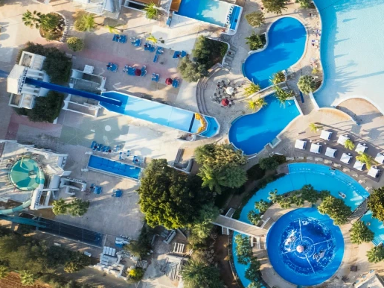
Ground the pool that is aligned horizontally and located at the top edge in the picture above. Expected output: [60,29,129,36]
[176,0,244,34]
